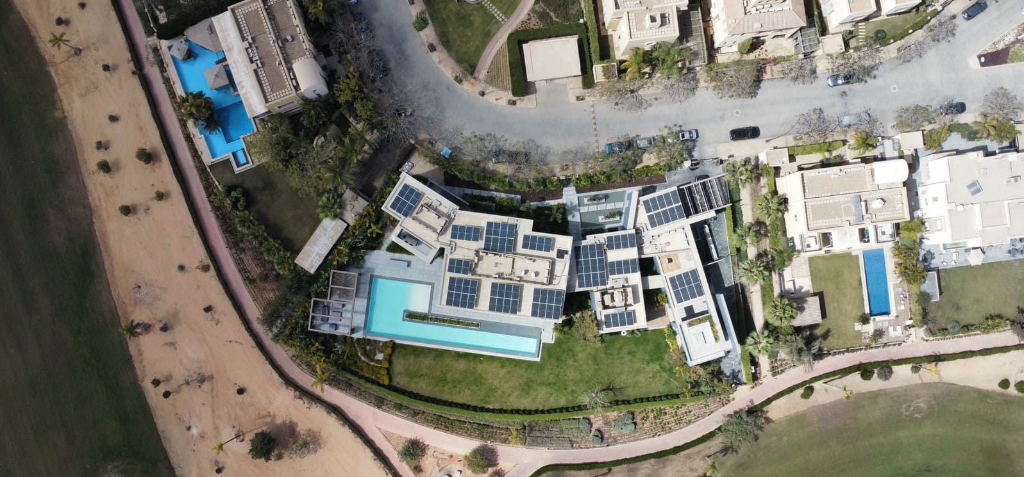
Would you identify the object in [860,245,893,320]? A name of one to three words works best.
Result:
swimming pool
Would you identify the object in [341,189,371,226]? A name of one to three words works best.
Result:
shed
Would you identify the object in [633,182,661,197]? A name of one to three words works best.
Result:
car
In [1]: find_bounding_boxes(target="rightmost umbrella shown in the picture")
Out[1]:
[962,248,982,264]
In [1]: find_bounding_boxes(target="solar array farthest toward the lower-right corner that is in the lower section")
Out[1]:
[670,269,704,304]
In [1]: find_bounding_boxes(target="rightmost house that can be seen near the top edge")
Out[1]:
[856,0,923,30]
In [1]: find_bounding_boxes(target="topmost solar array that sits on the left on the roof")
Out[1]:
[390,184,422,217]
